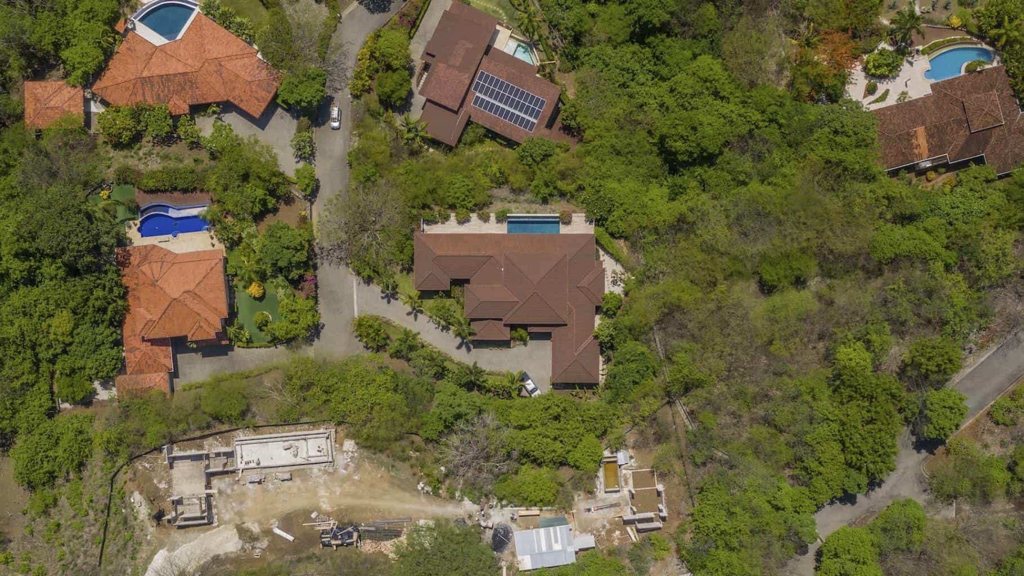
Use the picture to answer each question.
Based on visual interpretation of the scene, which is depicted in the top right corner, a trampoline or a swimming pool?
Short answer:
swimming pool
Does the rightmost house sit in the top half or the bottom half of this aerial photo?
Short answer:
top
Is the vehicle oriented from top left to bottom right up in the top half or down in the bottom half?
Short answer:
bottom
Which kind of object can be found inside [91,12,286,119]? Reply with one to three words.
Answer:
house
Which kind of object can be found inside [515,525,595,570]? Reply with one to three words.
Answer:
shed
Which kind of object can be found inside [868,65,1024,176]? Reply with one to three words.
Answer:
house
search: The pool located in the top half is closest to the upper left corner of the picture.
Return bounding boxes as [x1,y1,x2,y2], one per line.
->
[129,0,201,46]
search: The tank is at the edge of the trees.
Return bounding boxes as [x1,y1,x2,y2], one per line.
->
[601,454,622,493]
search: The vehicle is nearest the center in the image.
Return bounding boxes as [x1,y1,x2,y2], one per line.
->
[521,371,541,396]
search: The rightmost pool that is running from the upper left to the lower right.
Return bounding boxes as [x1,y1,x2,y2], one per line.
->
[493,24,556,68]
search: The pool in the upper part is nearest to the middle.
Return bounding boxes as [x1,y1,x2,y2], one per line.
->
[420,211,595,234]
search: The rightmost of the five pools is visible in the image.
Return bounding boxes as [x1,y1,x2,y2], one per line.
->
[847,34,1002,108]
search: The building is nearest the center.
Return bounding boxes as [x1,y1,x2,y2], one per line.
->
[414,234,605,383]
